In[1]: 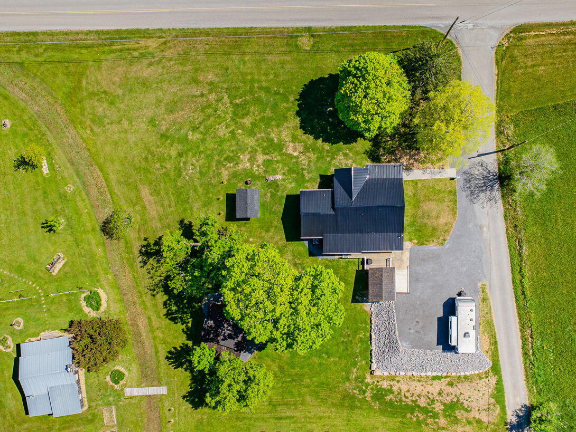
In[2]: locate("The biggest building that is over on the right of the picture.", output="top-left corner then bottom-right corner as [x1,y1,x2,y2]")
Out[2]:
[300,163,406,255]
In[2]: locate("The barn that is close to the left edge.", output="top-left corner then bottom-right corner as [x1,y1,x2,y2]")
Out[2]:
[19,336,85,417]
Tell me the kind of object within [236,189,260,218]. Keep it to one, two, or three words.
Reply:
shed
